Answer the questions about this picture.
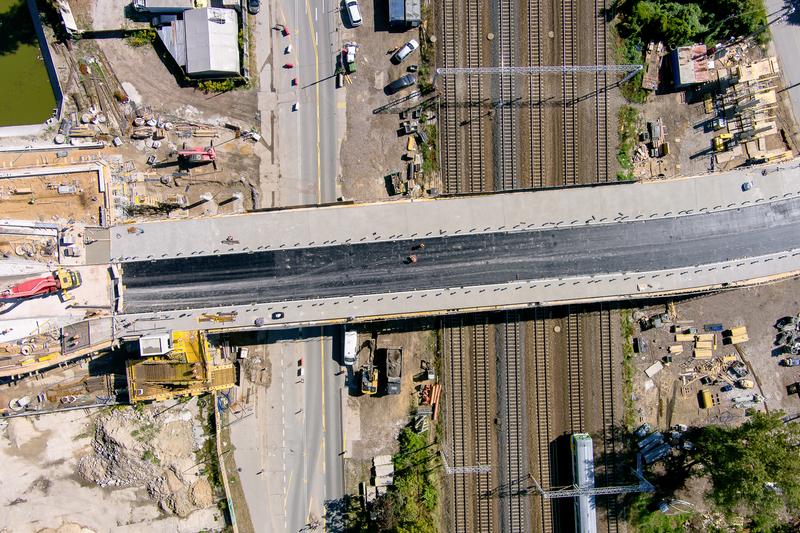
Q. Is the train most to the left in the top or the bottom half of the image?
bottom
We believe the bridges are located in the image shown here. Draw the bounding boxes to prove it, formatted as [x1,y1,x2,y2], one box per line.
[112,161,800,339]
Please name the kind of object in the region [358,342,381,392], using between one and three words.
work vehicle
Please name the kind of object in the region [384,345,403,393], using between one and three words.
vehicle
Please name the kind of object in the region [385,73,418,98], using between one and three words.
car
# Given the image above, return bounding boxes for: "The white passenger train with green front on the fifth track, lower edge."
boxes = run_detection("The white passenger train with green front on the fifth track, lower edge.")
[569,428,594,533]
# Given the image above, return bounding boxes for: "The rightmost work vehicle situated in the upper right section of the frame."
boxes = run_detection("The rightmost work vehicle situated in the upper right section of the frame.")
[707,135,731,153]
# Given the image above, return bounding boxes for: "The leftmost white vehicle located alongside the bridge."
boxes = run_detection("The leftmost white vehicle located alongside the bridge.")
[344,330,359,363]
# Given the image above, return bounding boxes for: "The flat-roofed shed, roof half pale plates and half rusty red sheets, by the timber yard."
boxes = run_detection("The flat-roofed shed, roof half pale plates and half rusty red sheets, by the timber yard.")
[665,43,716,94]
